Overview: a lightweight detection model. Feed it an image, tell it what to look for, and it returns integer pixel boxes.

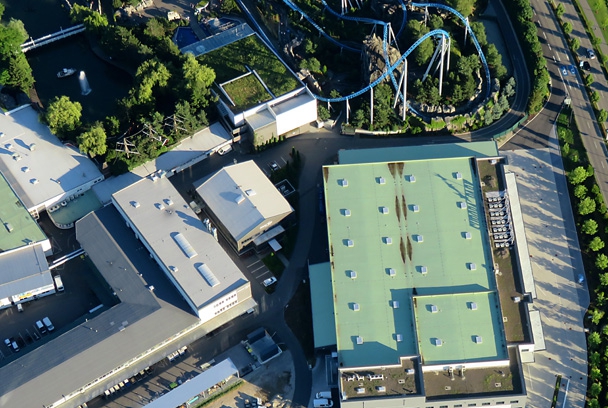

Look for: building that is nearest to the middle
[200,160,294,255]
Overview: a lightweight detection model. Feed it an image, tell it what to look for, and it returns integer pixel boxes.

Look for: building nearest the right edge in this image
[309,141,545,408]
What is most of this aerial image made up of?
buildings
